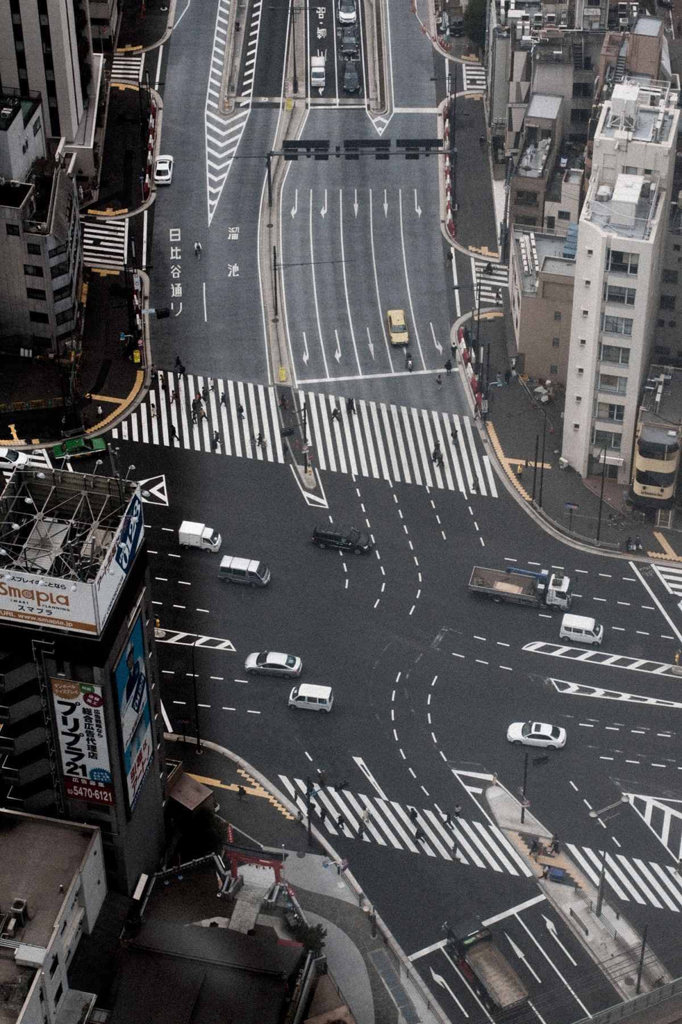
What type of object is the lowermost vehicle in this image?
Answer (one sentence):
Looking closely, the lowermost vehicle is a truck.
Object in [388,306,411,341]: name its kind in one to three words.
car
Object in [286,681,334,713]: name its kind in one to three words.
van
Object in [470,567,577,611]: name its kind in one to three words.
truck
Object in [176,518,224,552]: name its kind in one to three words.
truck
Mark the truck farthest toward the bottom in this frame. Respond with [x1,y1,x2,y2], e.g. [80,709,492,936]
[442,911,525,1018]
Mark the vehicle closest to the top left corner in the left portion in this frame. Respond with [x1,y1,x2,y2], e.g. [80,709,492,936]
[153,155,173,183]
